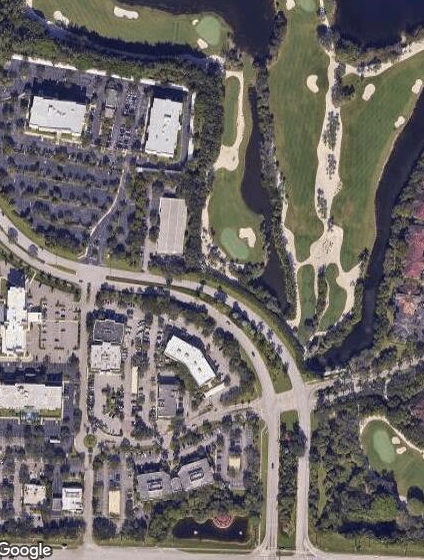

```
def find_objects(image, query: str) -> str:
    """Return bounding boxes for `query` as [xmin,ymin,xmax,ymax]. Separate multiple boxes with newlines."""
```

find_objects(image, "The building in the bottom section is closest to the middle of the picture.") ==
[165,336,216,387]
